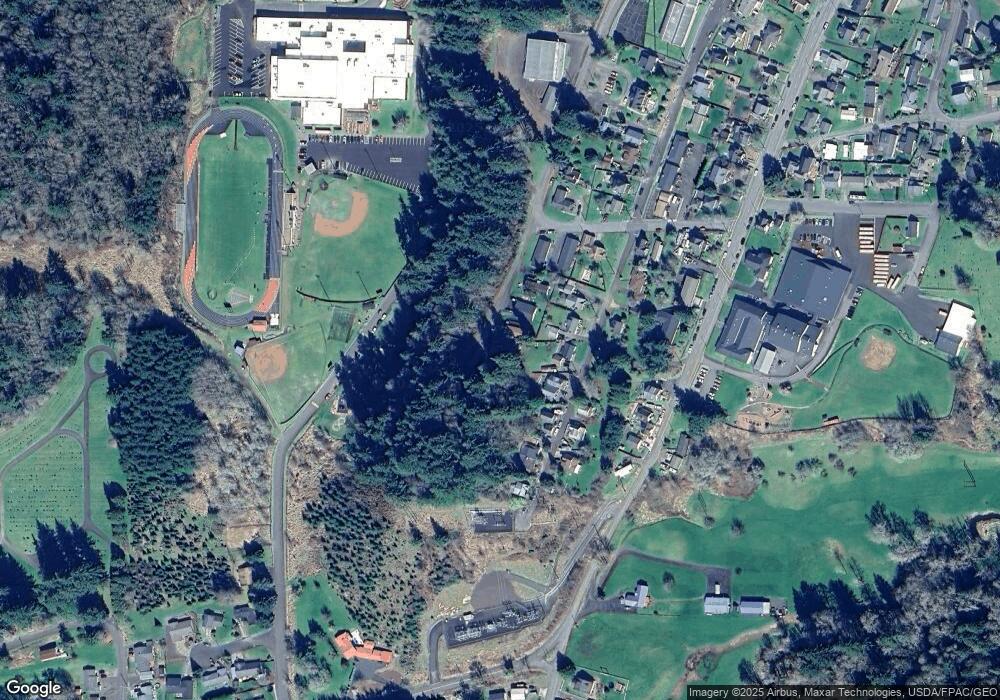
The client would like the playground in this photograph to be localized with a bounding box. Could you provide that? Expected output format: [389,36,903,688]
[736,385,793,432]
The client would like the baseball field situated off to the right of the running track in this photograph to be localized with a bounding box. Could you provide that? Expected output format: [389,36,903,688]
[297,174,406,301]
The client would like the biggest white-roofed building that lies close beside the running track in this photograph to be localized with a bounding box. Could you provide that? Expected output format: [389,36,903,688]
[257,18,414,126]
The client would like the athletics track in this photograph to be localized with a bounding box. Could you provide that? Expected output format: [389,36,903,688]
[183,106,282,326]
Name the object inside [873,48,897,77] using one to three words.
house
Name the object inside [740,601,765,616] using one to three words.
barn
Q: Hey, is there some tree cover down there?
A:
Yes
